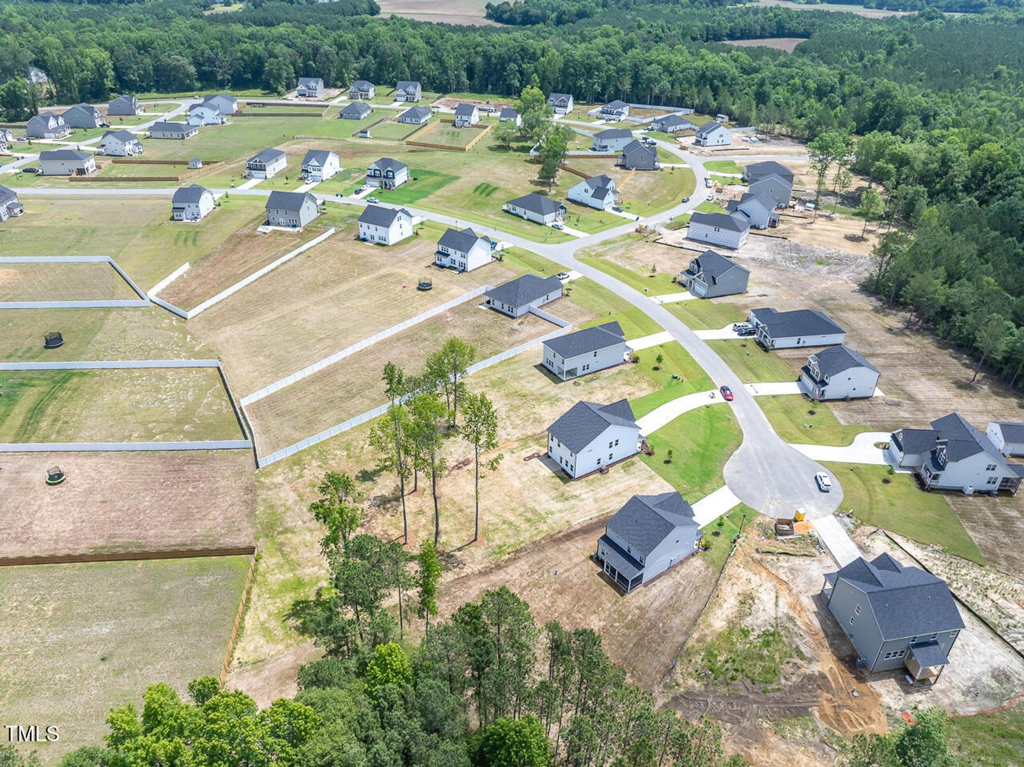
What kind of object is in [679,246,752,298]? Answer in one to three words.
house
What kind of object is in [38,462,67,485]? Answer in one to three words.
trampoline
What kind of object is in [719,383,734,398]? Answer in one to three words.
car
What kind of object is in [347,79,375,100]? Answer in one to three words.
house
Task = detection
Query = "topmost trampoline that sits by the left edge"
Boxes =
[41,330,62,346]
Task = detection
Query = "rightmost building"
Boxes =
[986,418,1024,457]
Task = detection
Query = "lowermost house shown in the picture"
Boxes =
[817,554,966,684]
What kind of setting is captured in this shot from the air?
residential area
